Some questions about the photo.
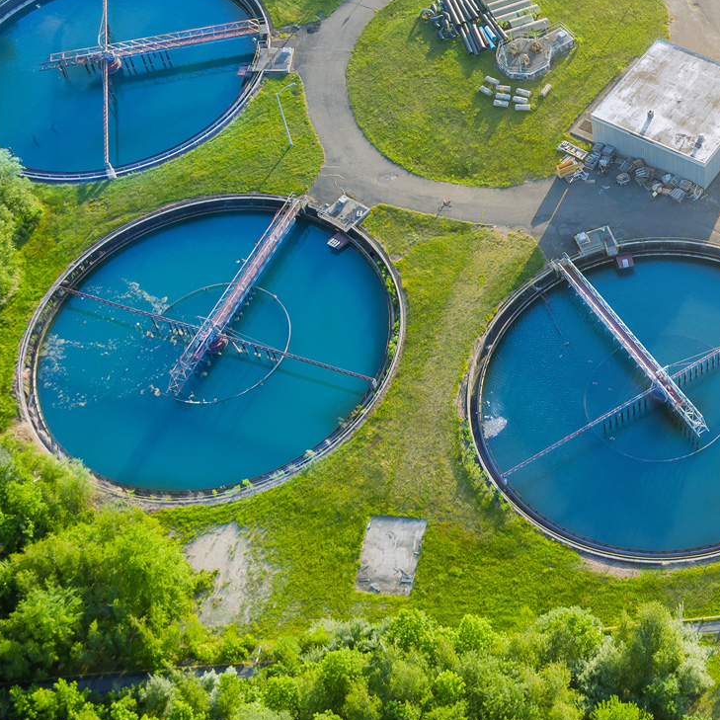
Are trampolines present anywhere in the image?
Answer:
No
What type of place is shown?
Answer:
industrial area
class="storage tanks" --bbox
[466,234,720,567]
[15,189,406,506]
[0,0,272,186]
